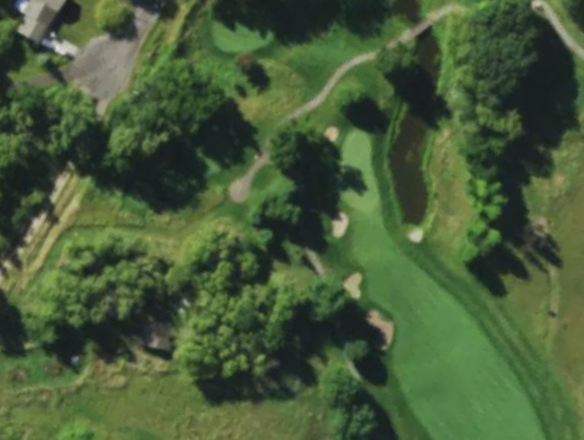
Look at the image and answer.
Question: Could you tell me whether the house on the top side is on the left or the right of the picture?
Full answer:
It is on the left.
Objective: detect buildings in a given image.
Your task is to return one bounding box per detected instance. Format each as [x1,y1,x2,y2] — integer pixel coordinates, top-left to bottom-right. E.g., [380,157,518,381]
[147,324,173,348]
[19,0,66,47]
